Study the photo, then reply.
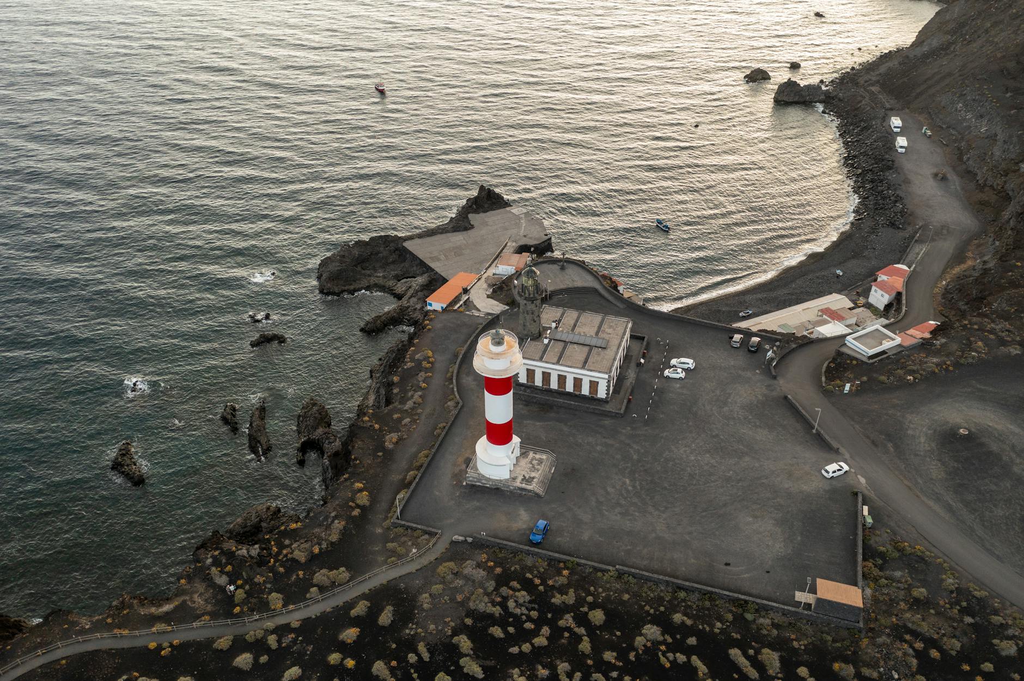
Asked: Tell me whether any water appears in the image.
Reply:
Yes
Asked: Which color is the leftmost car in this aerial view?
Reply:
blue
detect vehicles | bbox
[892,115,903,131]
[529,517,549,544]
[748,338,761,354]
[898,135,909,152]
[670,358,696,372]
[727,335,744,350]
[664,368,687,381]
[821,462,851,480]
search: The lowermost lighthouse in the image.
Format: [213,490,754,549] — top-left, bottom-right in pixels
[472,315,521,482]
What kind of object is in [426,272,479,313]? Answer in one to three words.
building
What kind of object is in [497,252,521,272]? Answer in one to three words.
house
